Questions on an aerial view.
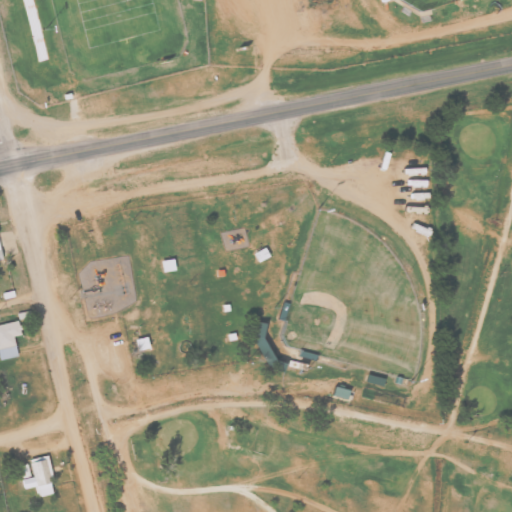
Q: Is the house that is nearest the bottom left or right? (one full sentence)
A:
The house that is nearest the bottom sits on the left side.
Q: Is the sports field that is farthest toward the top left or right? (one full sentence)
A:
The sports field that is farthest toward the top appears in the left half of the scene.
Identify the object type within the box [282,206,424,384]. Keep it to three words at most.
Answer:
baseball field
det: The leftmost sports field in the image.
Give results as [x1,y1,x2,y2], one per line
[74,0,164,52]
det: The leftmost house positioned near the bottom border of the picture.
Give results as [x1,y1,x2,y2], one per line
[24,458,54,498]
